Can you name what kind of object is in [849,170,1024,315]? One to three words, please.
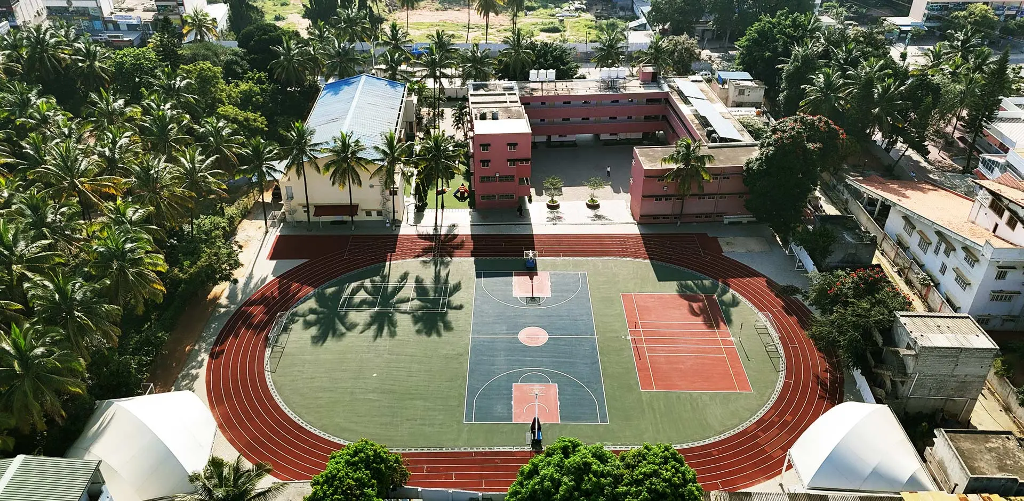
house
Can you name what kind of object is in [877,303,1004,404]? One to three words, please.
house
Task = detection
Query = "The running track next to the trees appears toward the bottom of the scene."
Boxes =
[211,233,837,491]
